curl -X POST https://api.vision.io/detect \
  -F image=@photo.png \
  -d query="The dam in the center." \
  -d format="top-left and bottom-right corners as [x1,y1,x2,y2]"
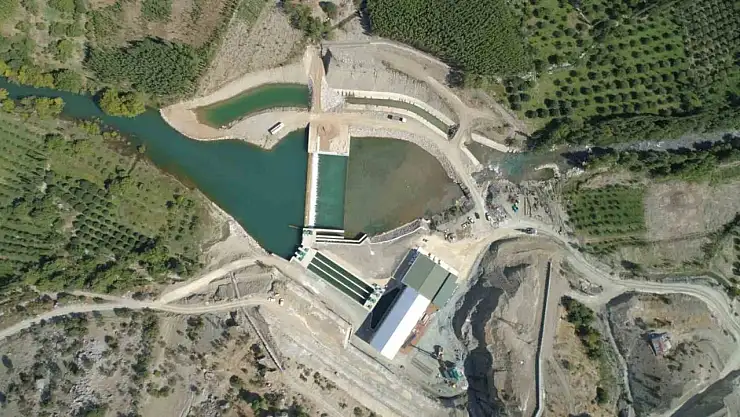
[305,155,320,228]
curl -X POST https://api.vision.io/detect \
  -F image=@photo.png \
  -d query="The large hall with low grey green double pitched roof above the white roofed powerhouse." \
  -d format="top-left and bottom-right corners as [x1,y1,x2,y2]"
[401,252,452,301]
